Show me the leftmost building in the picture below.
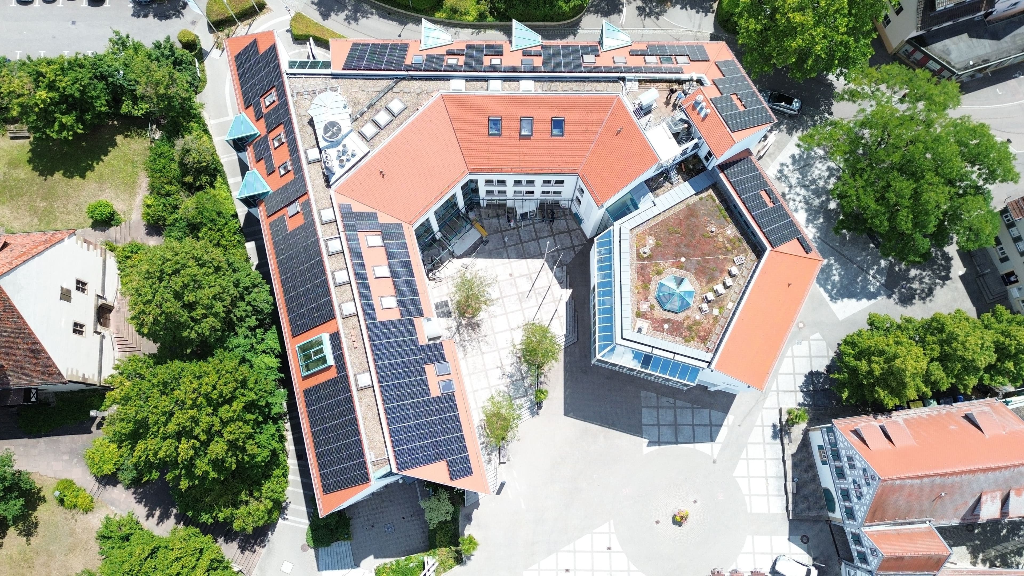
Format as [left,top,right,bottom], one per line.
[0,229,116,408]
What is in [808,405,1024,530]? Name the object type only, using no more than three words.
house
